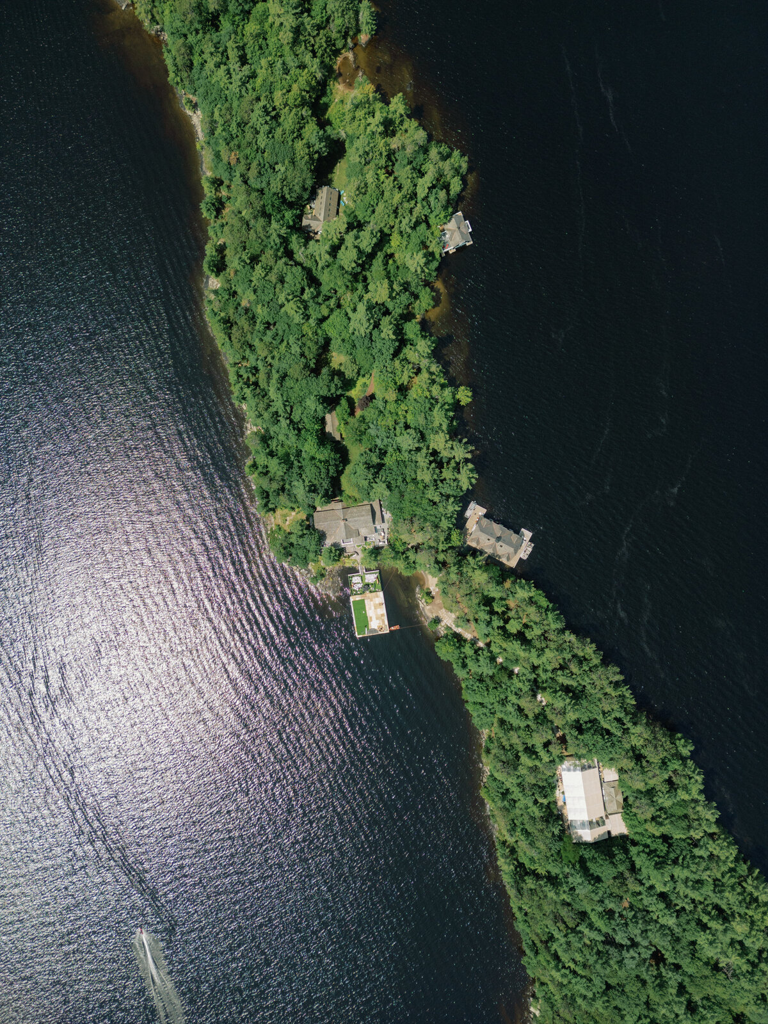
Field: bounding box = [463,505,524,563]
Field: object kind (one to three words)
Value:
building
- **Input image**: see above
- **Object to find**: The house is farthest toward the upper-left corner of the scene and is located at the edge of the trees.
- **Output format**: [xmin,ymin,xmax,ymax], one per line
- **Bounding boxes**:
[302,186,339,238]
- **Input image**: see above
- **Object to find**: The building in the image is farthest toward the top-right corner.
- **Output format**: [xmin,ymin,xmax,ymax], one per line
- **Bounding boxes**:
[439,211,473,257]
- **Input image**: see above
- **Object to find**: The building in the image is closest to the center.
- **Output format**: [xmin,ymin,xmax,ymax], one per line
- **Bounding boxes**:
[310,499,392,553]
